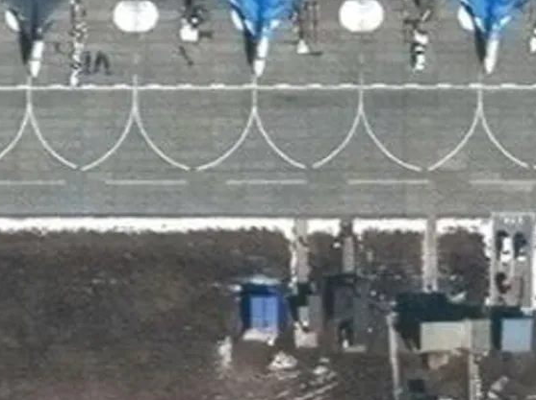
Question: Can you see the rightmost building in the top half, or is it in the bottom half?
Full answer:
The rightmost building is in the bottom half of the image.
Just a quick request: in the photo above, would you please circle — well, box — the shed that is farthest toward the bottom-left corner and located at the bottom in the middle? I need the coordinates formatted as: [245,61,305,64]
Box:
[235,280,286,330]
